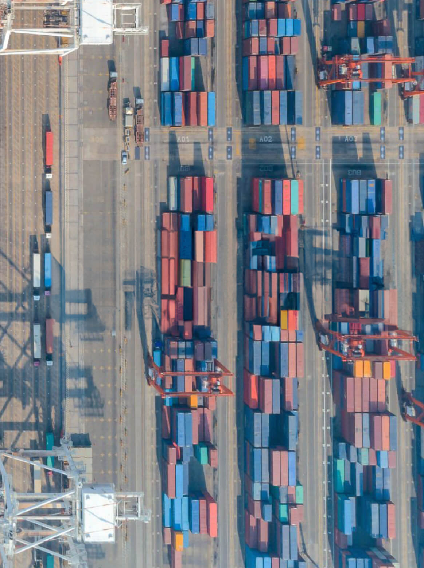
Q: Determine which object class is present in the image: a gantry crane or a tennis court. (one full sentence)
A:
This aerial view contains a gantry crane.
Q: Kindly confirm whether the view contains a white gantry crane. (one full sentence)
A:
Yes, there's a white gantry crane down there.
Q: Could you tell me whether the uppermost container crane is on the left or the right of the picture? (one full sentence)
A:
The uppermost container crane appears in the left half of the scene.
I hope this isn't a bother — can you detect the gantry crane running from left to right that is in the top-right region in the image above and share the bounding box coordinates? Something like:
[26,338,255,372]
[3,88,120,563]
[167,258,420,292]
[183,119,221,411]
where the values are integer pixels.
[319,53,415,90]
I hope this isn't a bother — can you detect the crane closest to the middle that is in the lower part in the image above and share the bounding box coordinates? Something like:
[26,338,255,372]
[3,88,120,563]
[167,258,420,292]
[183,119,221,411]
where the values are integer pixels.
[149,352,237,398]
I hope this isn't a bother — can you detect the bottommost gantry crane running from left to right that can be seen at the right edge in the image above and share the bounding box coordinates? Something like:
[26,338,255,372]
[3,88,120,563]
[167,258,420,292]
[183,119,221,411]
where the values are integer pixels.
[320,317,418,363]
